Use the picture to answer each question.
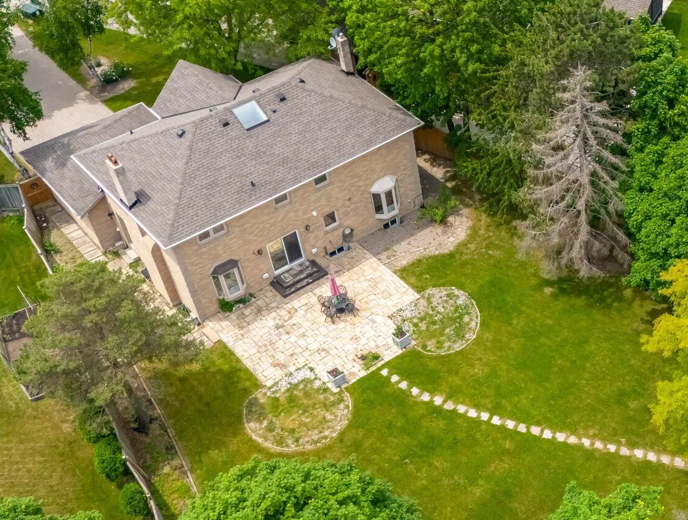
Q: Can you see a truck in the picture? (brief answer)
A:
No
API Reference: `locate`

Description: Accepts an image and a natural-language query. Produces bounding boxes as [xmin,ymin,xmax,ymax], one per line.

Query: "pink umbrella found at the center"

[329,278,342,304]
